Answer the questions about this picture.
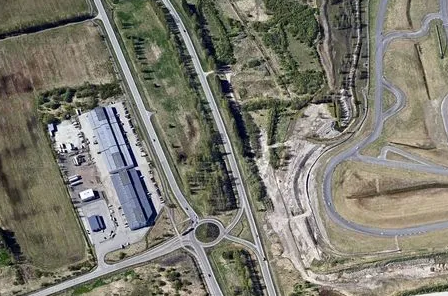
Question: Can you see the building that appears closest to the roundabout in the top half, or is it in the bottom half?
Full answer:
Seen from above, the building that appears closest to the roundabout lies in the bottom half of the view.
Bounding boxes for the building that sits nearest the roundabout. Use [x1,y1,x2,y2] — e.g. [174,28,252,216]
[109,167,156,229]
